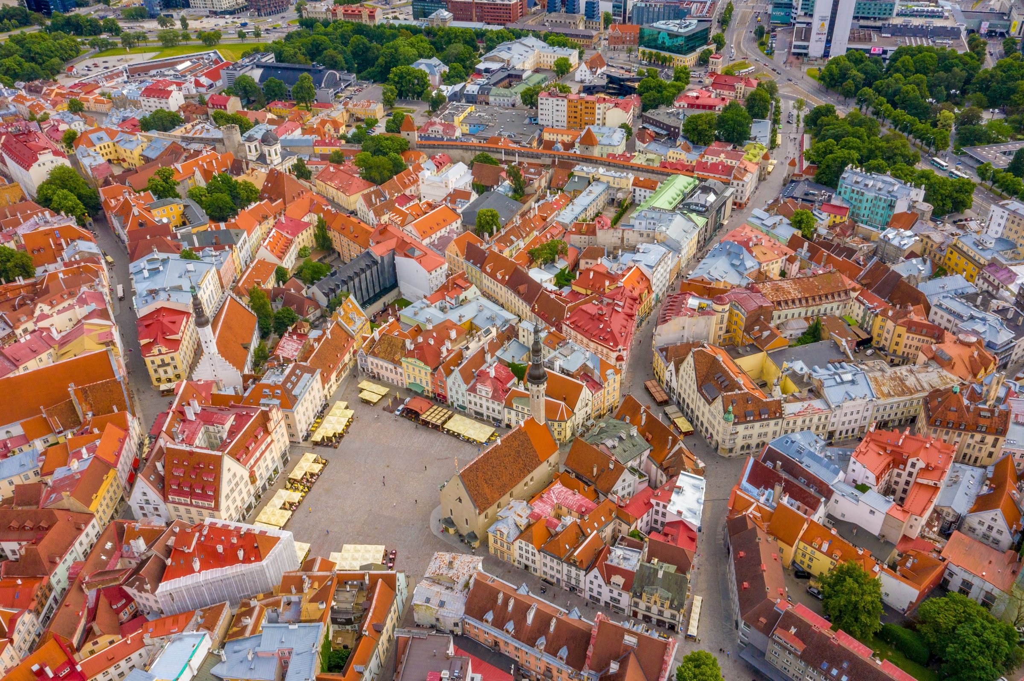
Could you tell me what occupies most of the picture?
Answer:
buildings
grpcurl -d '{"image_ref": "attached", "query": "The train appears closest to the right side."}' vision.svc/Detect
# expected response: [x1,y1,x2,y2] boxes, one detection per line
[734,60,768,74]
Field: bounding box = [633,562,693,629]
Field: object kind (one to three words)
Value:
house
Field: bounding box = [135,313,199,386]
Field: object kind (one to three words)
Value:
building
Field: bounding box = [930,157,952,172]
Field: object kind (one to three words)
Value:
vehicle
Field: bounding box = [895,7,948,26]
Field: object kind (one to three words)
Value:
building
